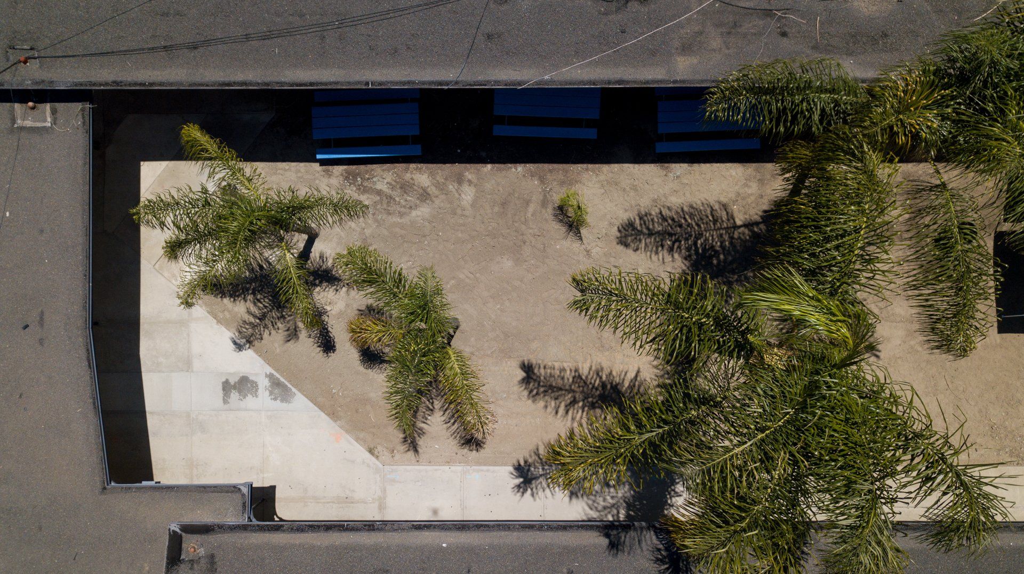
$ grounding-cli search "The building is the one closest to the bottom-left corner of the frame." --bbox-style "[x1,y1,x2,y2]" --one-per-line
[0,89,253,574]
